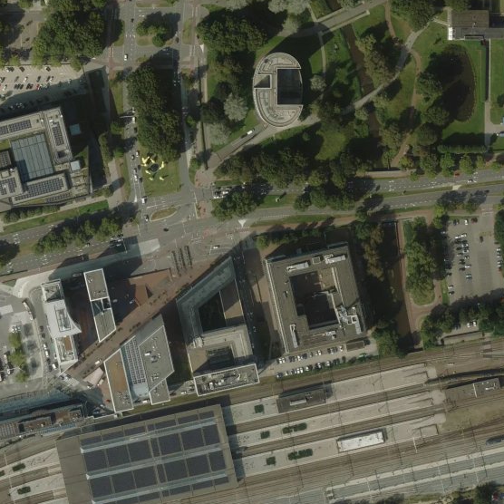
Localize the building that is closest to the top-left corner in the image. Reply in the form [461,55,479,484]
[0,108,92,211]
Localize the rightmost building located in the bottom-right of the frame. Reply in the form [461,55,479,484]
[472,377,499,398]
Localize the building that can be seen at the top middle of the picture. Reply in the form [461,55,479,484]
[253,53,302,128]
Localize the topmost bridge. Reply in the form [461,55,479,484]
[318,0,368,29]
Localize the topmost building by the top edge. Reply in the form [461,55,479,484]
[447,11,504,41]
